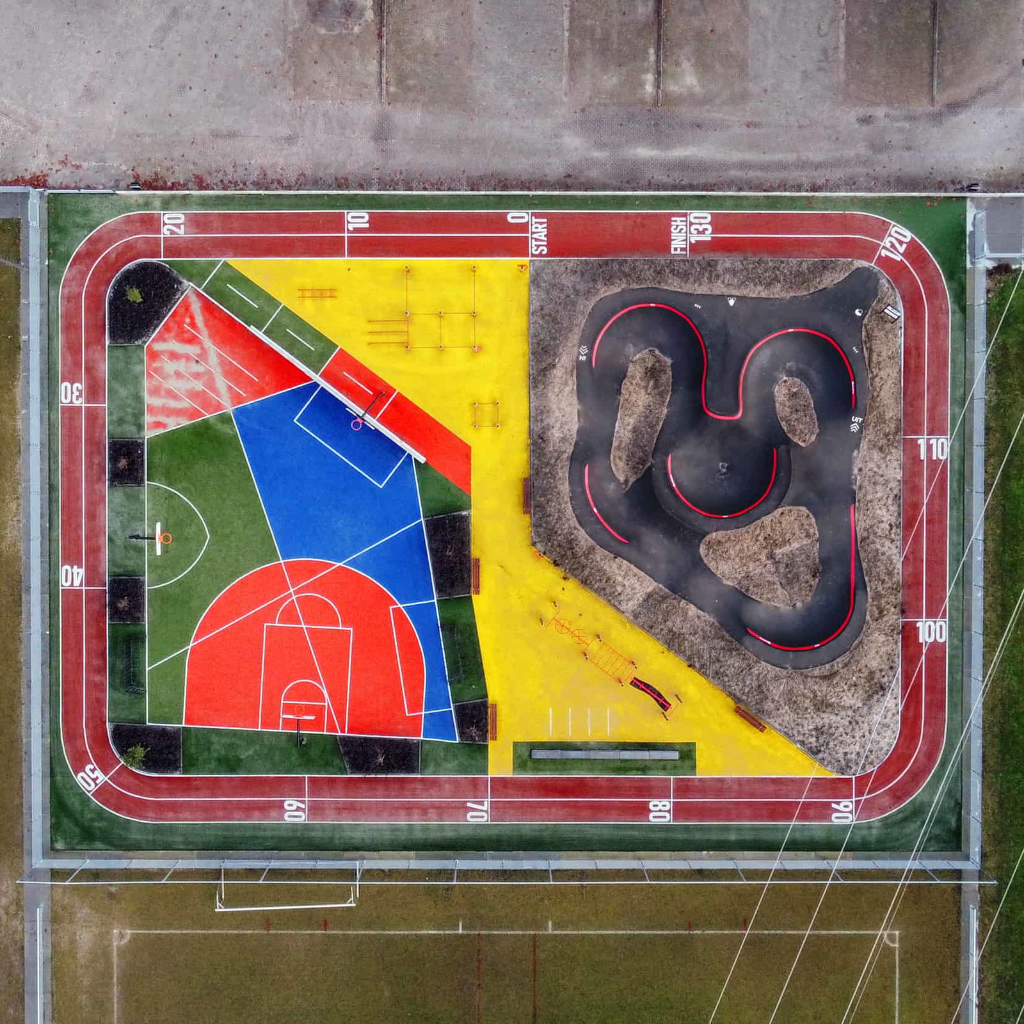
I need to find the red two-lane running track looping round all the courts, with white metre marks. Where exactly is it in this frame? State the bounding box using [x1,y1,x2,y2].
[59,211,951,824]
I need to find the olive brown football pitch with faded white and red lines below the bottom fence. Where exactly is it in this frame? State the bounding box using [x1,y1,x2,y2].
[51,870,961,1024]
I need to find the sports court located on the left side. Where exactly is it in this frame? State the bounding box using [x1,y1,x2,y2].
[146,284,459,743]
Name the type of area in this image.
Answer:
sports ground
